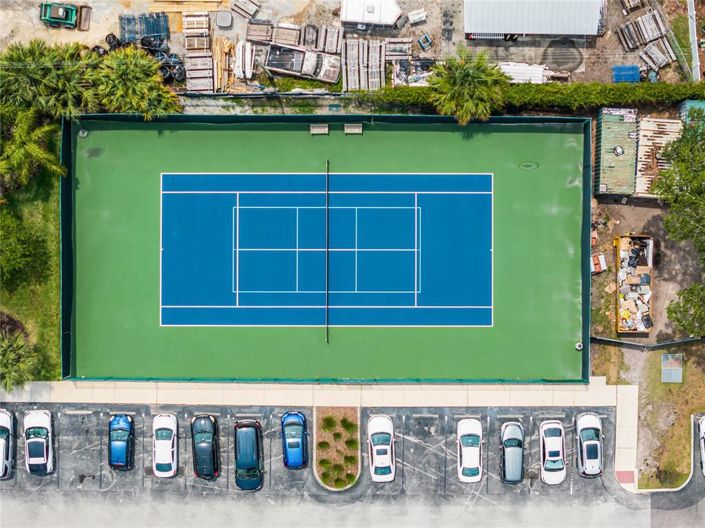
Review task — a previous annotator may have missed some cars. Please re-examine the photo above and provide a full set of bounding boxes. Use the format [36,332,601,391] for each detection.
[149,414,180,477]
[538,420,569,485]
[232,420,266,491]
[105,414,136,469]
[20,410,56,475]
[188,414,221,479]
[0,409,18,479]
[366,414,397,482]
[455,419,486,483]
[278,410,310,469]
[574,412,607,478]
[498,421,529,483]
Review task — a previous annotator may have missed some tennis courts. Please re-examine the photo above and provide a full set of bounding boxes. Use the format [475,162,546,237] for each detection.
[71,121,582,381]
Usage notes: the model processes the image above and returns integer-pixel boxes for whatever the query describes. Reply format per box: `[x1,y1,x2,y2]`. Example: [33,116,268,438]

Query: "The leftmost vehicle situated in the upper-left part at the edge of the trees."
[37,0,97,34]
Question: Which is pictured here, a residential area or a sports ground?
sports ground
